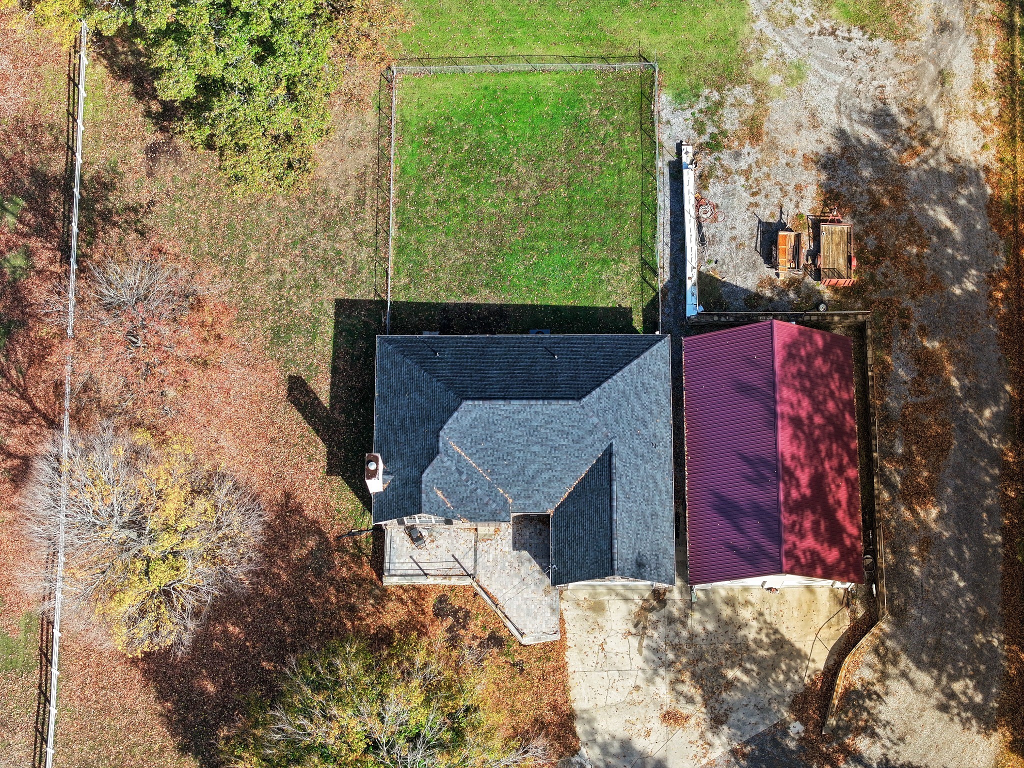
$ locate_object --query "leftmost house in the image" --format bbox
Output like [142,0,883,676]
[364,334,677,591]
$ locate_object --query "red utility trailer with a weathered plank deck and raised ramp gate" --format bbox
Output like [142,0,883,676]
[816,206,857,281]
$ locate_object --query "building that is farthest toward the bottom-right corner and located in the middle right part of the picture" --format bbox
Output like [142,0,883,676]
[681,319,866,587]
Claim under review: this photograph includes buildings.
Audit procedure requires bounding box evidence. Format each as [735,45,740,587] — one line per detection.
[364,334,677,591]
[681,319,866,587]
